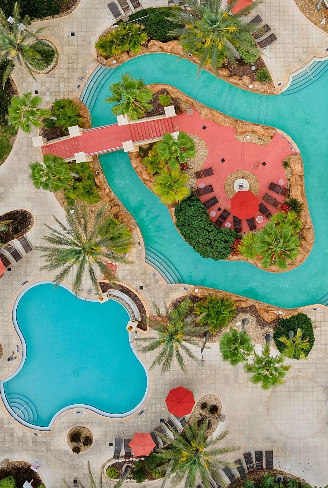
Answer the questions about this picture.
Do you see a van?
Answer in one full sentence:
No, there's no van here.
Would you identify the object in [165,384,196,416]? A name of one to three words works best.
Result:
umbrella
